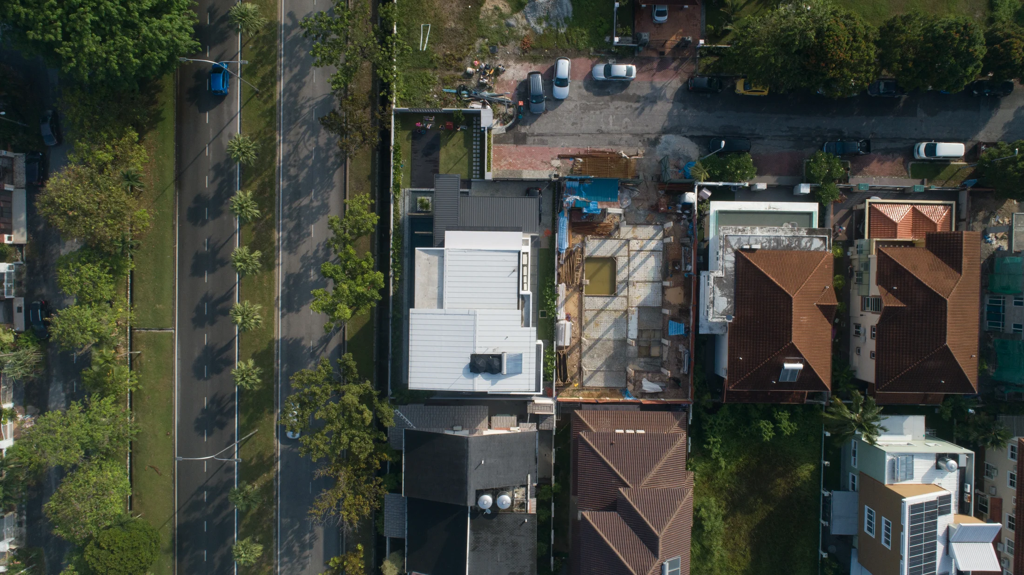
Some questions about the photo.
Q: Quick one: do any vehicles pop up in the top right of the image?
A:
Yes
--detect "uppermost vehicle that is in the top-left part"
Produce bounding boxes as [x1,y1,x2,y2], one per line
[209,63,231,98]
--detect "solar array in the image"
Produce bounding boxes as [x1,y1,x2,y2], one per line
[910,501,950,575]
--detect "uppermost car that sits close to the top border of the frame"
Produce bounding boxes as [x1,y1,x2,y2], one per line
[650,6,671,30]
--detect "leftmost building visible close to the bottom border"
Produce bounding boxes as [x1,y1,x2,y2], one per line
[384,399,554,575]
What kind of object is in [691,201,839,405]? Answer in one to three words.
house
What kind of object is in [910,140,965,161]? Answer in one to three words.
vehicle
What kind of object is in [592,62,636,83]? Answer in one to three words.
car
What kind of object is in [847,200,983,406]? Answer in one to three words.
house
